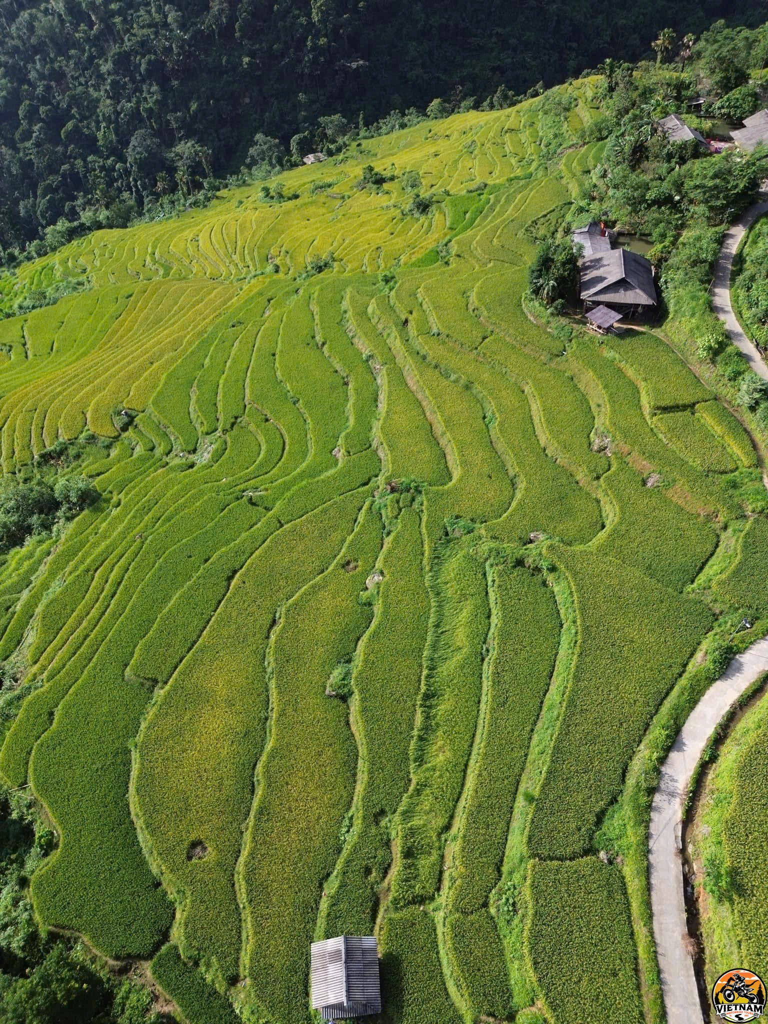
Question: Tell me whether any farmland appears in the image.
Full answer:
Yes, farmland can be seen from above here.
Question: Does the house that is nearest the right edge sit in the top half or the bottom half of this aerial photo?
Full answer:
You can find the house that is nearest the right edge in the top half.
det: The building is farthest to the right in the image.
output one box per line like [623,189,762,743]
[731,112,768,157]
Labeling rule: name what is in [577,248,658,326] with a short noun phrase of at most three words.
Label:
house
